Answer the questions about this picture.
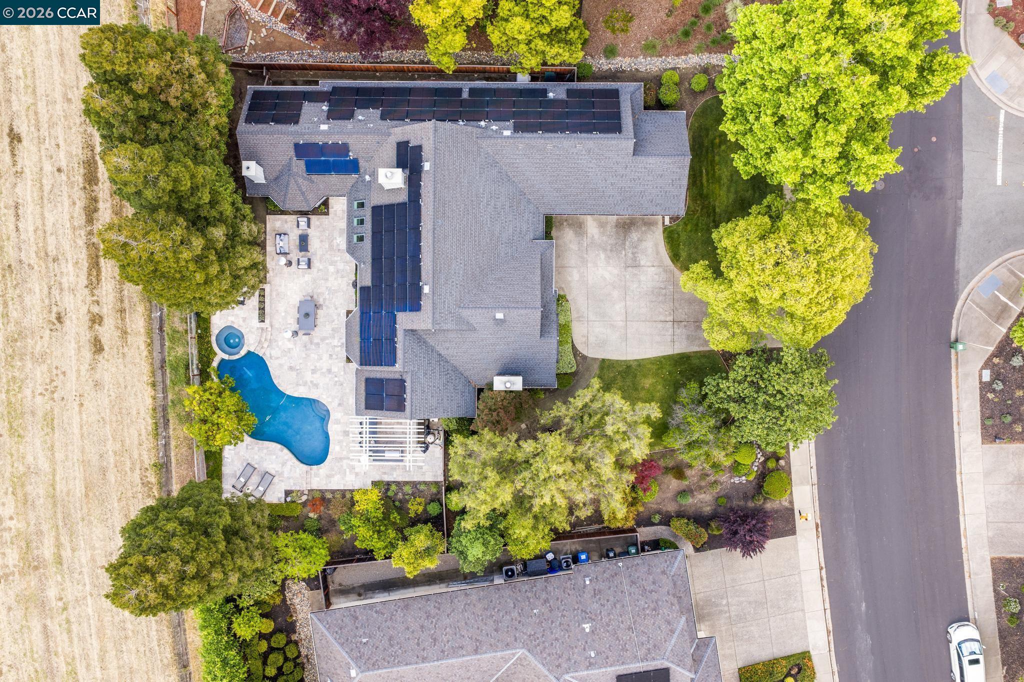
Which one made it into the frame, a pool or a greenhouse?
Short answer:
pool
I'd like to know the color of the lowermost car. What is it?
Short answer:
white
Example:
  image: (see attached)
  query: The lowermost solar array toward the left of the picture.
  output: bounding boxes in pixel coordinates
[365,379,408,414]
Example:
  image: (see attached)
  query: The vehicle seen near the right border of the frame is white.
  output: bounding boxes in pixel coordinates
[943,622,984,682]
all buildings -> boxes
[309,544,725,682]
[236,79,691,420]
